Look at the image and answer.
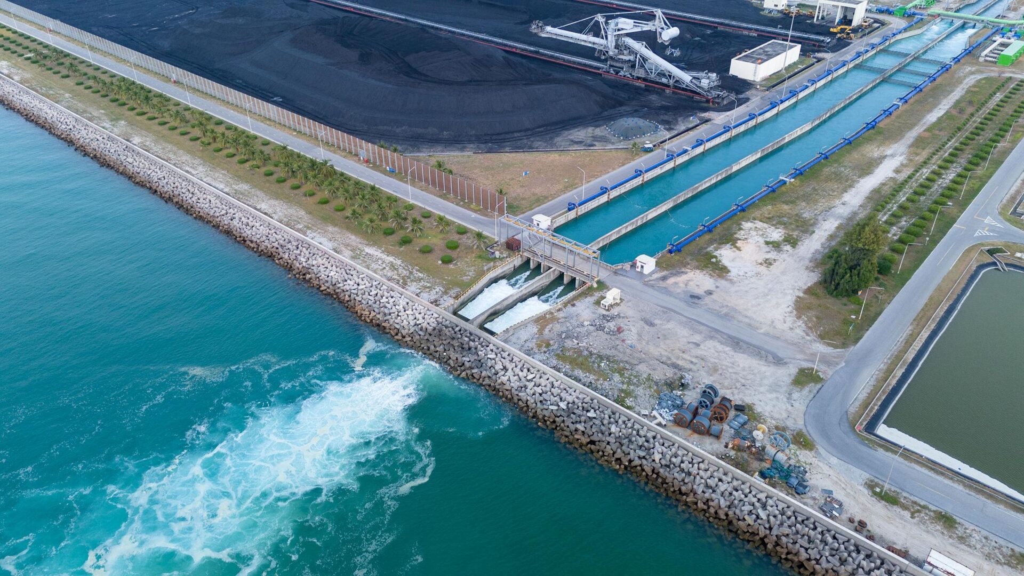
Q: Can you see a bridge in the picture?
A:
Yes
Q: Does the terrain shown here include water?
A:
Yes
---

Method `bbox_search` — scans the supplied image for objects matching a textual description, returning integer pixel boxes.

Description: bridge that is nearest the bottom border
[521,240,614,289]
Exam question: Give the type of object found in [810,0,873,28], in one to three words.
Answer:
shed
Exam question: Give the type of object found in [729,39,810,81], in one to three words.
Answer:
building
